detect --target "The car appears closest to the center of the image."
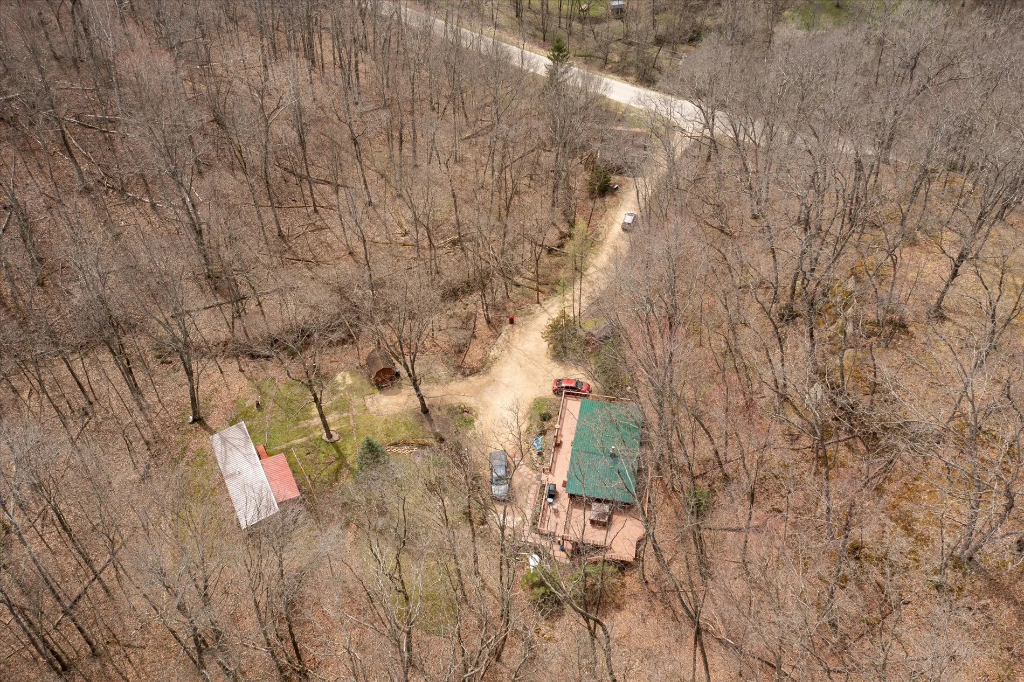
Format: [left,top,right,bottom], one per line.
[552,376,592,394]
